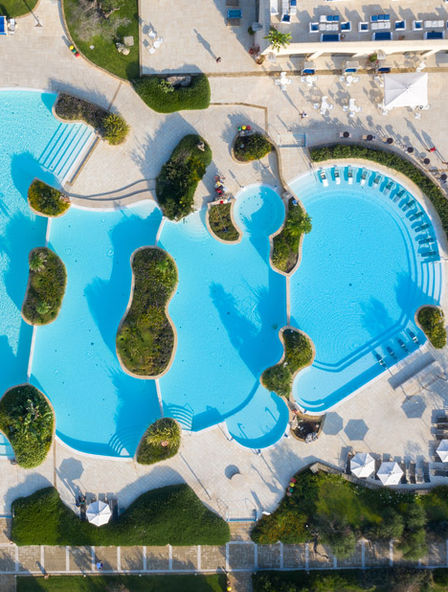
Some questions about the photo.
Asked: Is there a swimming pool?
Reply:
Yes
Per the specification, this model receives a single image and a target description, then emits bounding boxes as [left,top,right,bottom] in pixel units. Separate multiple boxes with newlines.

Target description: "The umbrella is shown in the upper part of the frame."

[383,73,428,108]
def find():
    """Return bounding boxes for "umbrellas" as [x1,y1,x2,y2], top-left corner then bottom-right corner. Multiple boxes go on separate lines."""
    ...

[375,461,403,485]
[85,500,111,526]
[349,453,375,477]
[435,439,448,463]
[383,73,428,108]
